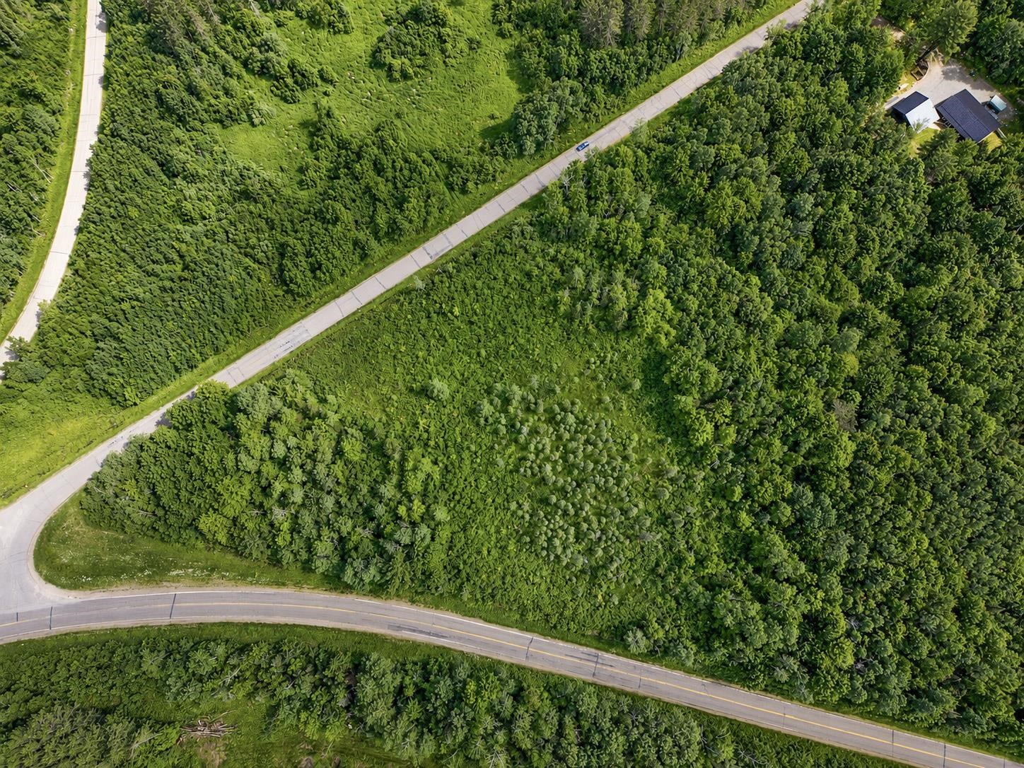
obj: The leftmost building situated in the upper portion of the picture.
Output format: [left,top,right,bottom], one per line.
[892,89,940,133]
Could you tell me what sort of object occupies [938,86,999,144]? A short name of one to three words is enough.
house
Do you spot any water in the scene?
No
